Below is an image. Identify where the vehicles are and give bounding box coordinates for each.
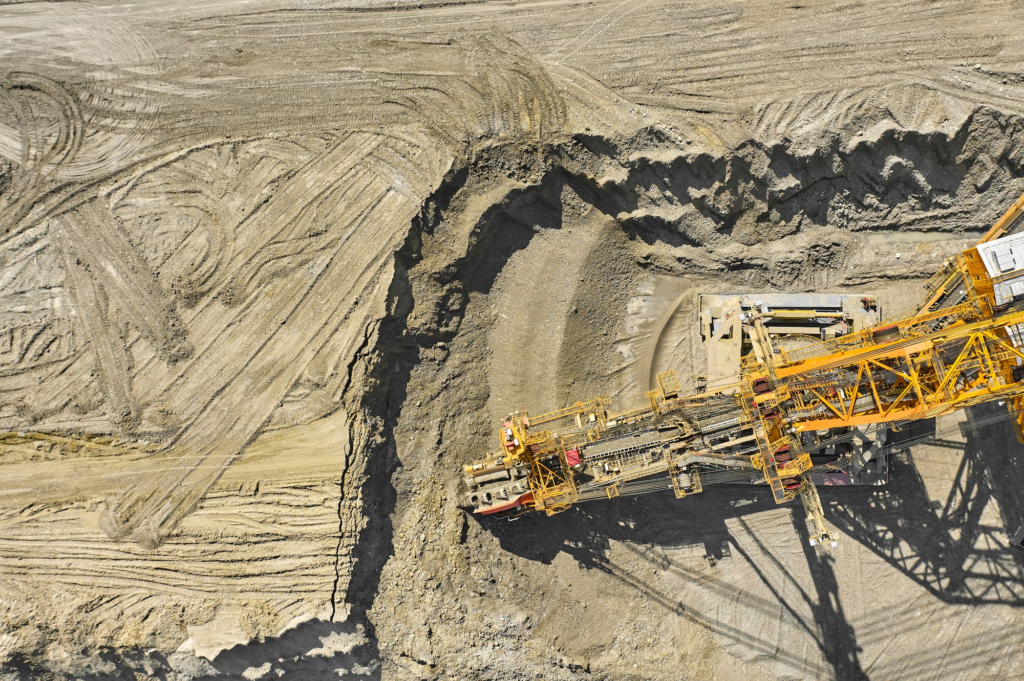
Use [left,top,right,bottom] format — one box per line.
[462,229,1024,555]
